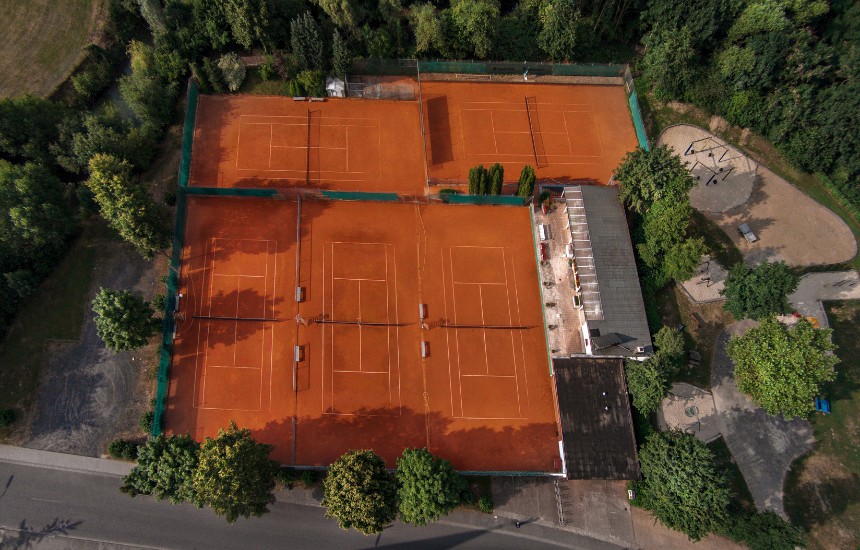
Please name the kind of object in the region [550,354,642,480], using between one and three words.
building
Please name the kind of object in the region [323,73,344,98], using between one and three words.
shed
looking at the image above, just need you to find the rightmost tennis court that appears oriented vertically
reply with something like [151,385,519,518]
[418,203,562,474]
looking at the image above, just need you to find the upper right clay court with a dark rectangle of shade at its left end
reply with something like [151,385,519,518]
[421,82,642,207]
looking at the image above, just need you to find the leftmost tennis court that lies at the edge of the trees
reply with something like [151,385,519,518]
[164,197,298,467]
